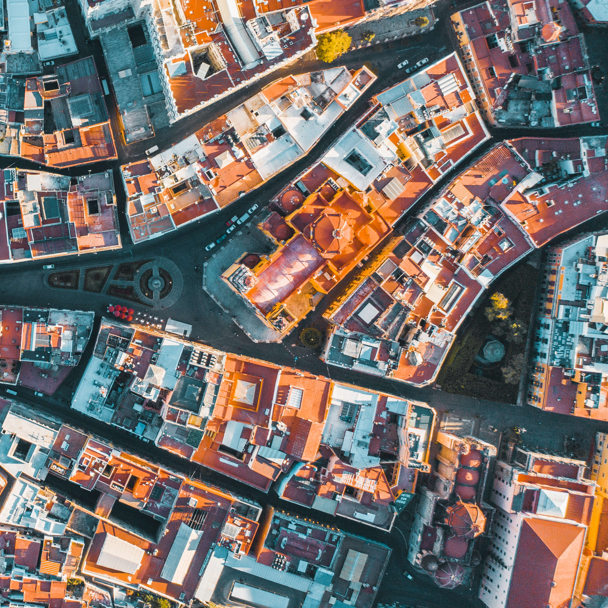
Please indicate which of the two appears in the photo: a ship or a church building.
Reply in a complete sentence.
Of the two, only a church building appears.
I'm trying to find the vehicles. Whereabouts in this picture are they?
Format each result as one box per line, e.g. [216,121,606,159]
[206,241,216,249]
[145,145,158,155]
[44,60,55,67]
[225,216,238,227]
[33,390,45,397]
[396,60,408,68]
[5,387,18,396]
[225,225,236,234]
[247,203,258,213]
[101,73,111,99]
[402,570,413,581]
[406,65,417,74]
[416,58,428,67]
[216,234,227,243]
[235,212,252,226]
